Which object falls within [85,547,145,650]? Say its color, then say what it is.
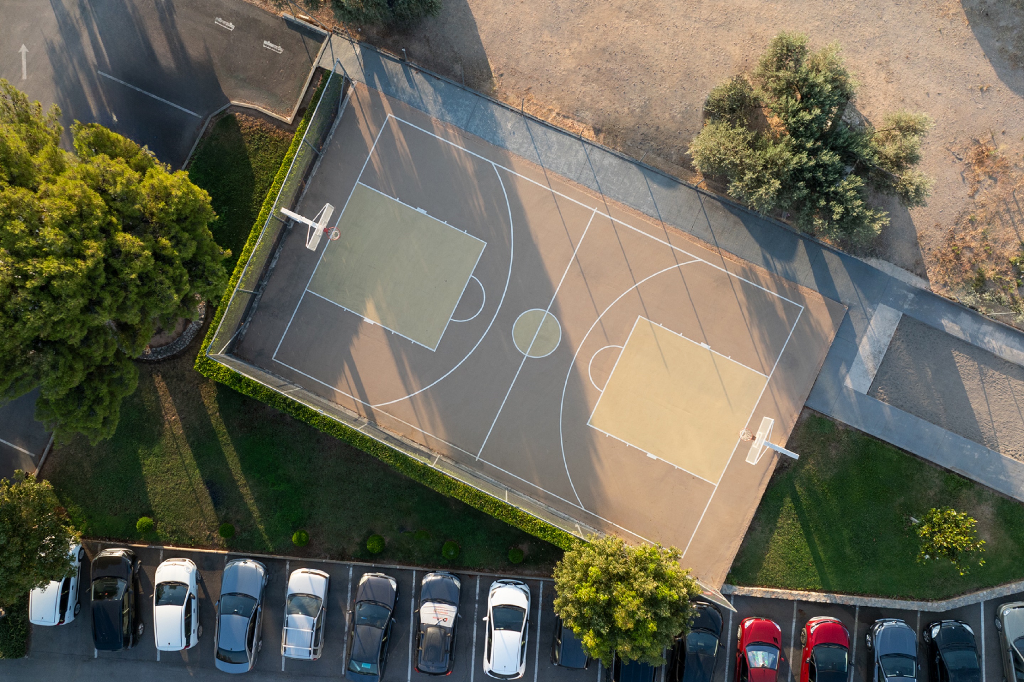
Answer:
black car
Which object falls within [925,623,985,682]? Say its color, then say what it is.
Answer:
black car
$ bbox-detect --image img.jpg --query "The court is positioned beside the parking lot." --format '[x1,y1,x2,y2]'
[237,83,847,589]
